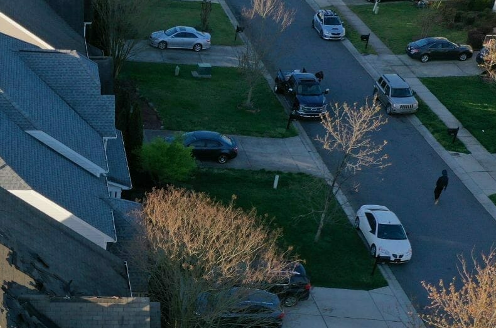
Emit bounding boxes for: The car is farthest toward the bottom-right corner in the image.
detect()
[358,203,415,262]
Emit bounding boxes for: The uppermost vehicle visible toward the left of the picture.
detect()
[147,24,211,50]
